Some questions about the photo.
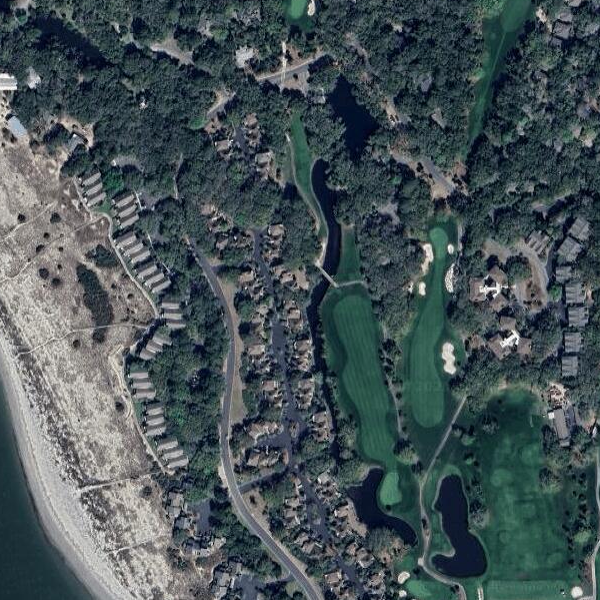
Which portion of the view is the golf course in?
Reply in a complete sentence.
The golf course is in the right part of the image.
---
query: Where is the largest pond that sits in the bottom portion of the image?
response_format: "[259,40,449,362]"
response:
[433,474,486,576]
